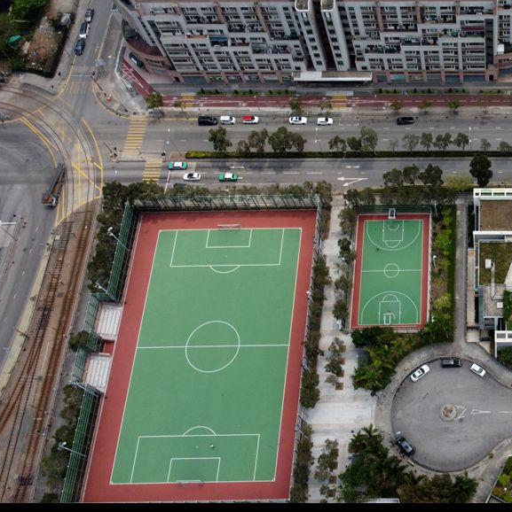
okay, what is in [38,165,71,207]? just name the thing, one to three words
truck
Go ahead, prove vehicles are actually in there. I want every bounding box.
[218,115,238,125]
[78,24,91,38]
[396,434,413,455]
[469,362,487,377]
[290,116,307,125]
[183,172,203,181]
[168,162,187,170]
[219,173,238,181]
[169,183,188,191]
[397,116,414,125]
[198,116,217,125]
[38,165,71,207]
[410,365,430,382]
[316,117,333,125]
[243,116,259,124]
[441,358,461,368]
[74,41,87,54]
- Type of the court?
basketball court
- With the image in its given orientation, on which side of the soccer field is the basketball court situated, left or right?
right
